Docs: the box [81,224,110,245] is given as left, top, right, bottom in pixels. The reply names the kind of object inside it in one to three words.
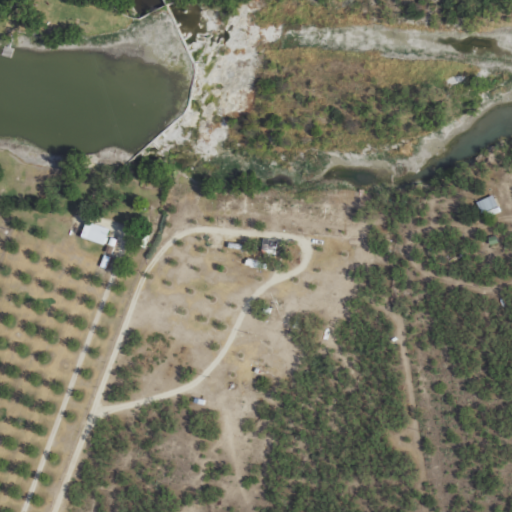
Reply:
house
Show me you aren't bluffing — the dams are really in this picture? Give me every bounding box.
[132,0,198,161]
